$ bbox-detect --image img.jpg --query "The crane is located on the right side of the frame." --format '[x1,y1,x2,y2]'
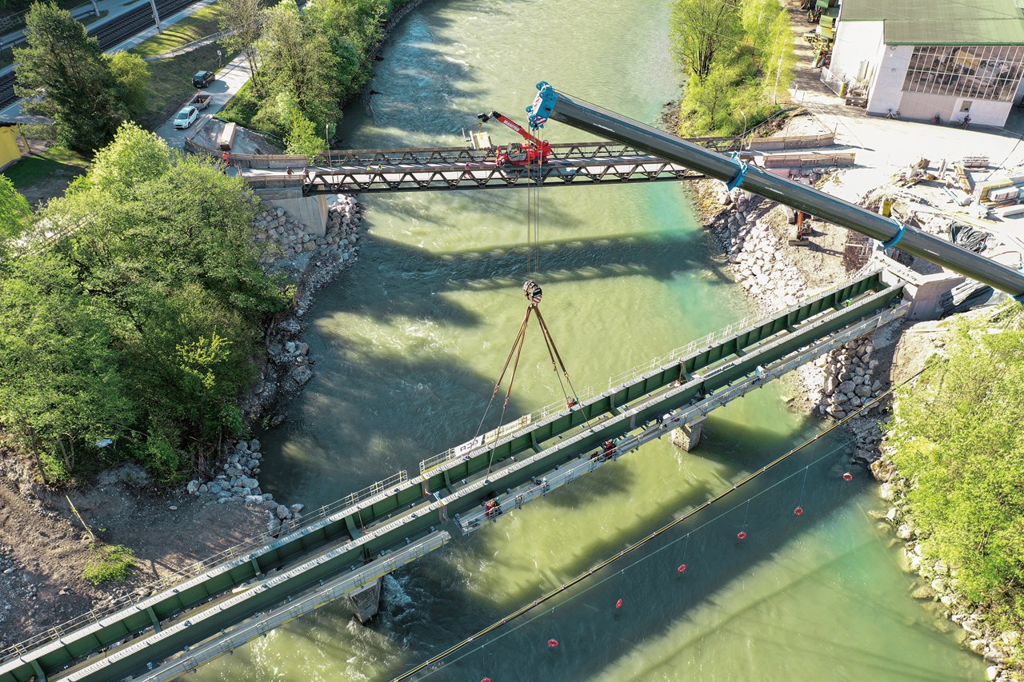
[522,80,1024,308]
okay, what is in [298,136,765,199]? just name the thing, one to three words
bridge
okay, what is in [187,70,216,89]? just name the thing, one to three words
car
